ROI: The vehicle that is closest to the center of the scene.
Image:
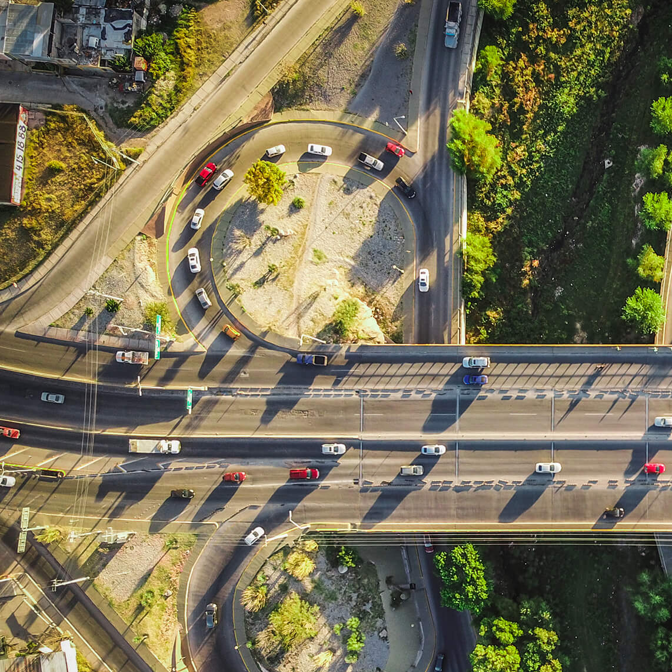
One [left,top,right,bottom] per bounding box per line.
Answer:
[298,353,328,365]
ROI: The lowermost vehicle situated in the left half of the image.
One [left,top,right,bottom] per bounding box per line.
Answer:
[205,604,218,628]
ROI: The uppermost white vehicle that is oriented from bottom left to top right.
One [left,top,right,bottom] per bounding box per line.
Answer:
[212,169,234,191]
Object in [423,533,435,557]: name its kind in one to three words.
vehicle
